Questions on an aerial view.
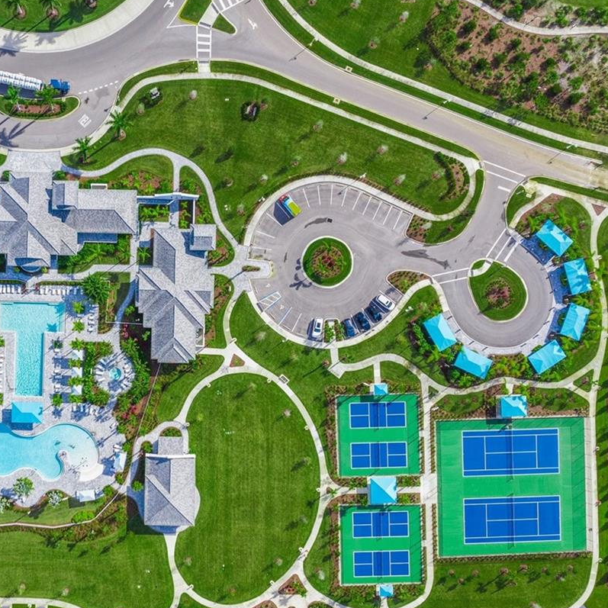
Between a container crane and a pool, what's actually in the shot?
pool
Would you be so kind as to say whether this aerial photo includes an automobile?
Yes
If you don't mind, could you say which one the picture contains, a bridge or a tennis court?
tennis court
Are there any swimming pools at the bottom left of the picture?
Yes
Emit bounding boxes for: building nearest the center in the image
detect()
[138,224,216,362]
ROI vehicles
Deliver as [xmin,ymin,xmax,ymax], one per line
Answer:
[277,193,302,219]
[0,79,69,97]
[365,305,381,324]
[312,317,322,337]
[341,318,355,341]
[376,294,395,311]
[353,314,370,333]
